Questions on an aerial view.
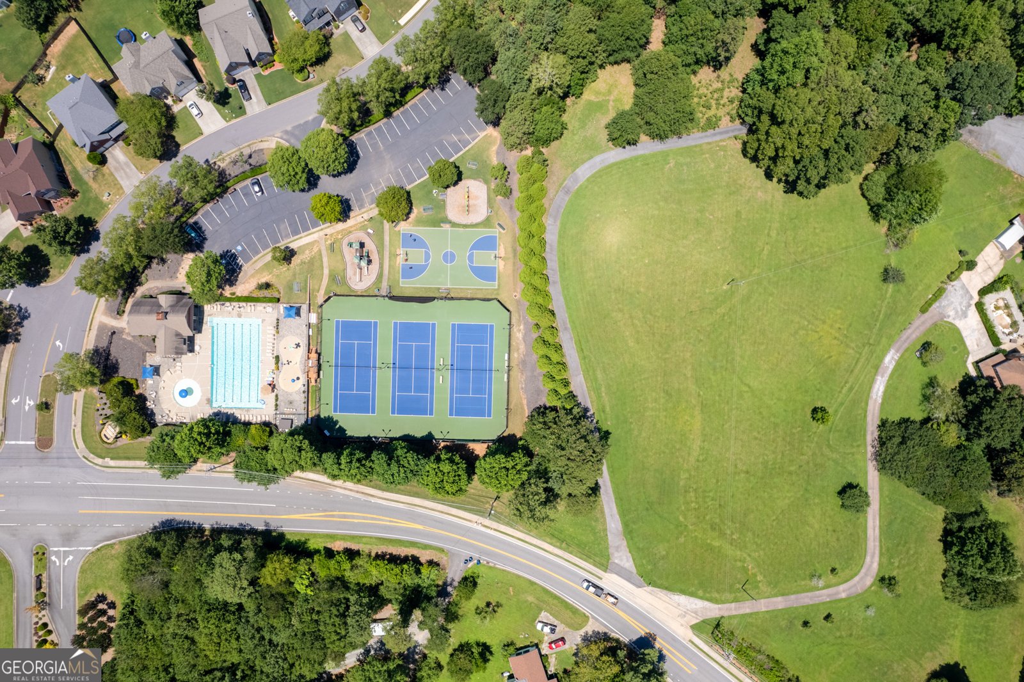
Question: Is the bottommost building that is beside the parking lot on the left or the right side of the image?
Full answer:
The bottommost building that is beside the parking lot sits on the left side.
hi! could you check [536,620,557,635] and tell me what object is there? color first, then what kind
white vehicle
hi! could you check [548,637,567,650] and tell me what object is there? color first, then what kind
red vehicle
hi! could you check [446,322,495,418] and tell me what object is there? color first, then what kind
blue tennis court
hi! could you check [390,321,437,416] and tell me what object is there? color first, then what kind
blue tennis court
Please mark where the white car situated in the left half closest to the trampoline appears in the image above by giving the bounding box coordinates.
[187,100,204,119]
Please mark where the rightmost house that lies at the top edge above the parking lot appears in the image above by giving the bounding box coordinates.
[287,0,361,34]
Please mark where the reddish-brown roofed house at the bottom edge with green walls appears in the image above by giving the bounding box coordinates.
[509,646,559,682]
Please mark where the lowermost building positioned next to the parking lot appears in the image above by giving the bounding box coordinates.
[123,294,207,355]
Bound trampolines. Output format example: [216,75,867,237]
[117,28,136,46]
